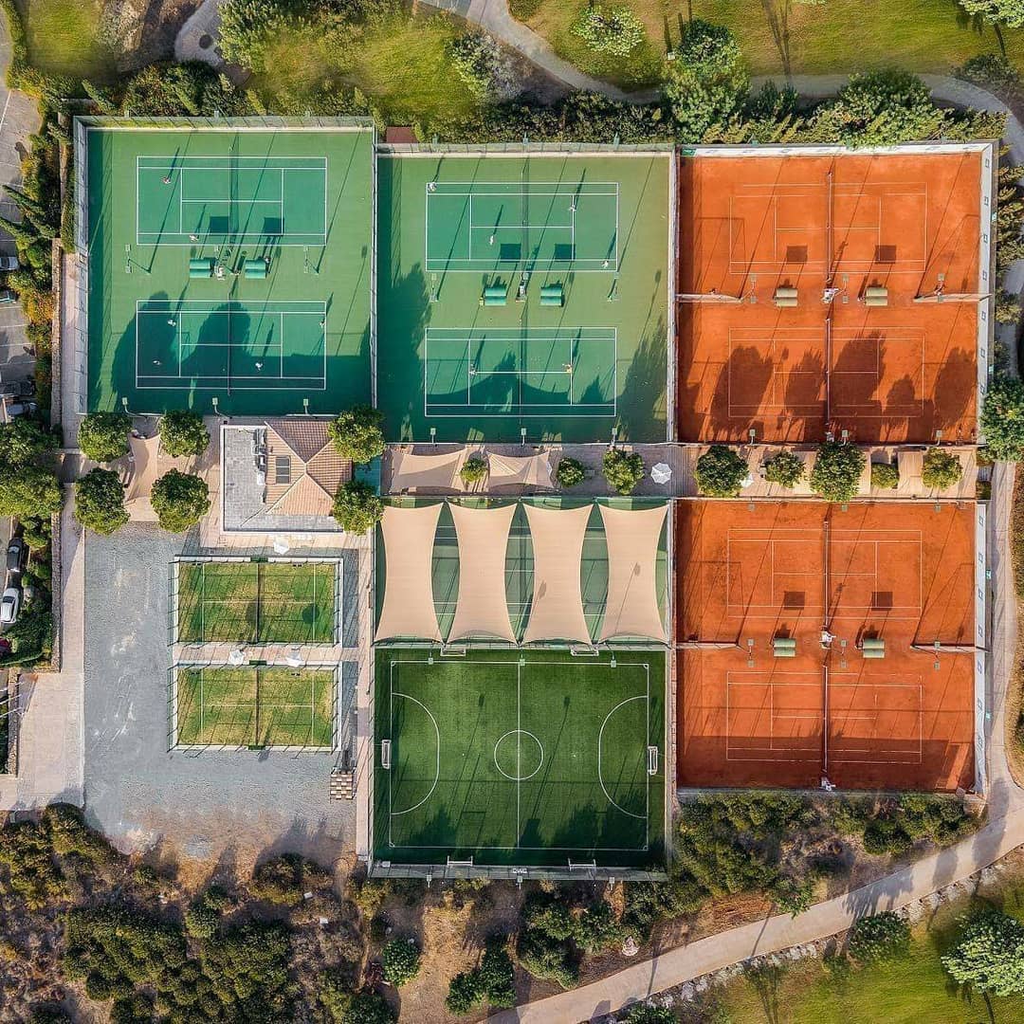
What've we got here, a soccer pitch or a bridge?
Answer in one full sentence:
This aerial view contains a soccer pitch.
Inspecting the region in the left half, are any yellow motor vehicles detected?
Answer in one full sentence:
No, no yellow motor vehicle can be made out in the left half.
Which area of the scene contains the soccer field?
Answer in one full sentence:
The soccer field appears toward the bottom of the photo.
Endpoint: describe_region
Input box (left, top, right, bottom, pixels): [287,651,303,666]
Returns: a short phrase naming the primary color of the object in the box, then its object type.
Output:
white umbrella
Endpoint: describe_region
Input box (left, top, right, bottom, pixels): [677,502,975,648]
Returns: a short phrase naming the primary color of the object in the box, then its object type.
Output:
orange tennis court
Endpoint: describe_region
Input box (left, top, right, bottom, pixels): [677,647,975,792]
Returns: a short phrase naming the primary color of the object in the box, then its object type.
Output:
orange tennis court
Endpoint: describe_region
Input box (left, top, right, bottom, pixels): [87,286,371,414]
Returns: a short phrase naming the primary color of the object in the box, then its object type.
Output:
green tennis court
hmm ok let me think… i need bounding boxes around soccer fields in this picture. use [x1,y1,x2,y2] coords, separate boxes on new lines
[372,650,665,867]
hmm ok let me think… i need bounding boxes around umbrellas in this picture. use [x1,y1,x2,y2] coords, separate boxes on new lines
[741,474,756,486]
[650,462,671,484]
[275,537,290,553]
[230,648,245,663]
[287,651,303,666]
